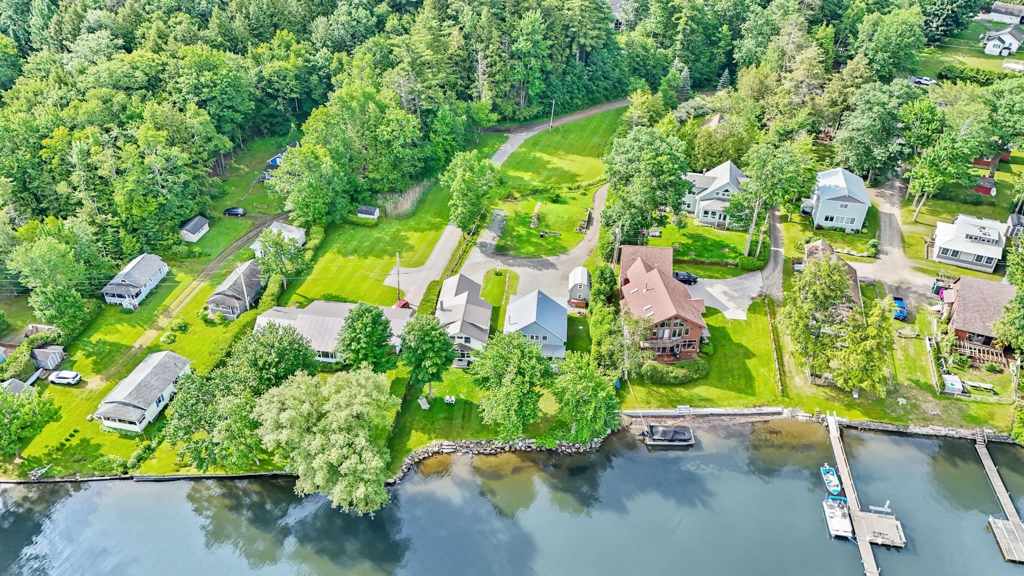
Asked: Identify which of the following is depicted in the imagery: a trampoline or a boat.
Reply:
boat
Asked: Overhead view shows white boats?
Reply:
Yes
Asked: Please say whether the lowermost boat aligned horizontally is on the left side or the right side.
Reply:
right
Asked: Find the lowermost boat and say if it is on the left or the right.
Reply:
right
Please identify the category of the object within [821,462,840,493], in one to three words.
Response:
boat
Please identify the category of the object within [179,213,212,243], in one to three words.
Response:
shed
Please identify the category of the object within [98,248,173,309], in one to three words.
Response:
house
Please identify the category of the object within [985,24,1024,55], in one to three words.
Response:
house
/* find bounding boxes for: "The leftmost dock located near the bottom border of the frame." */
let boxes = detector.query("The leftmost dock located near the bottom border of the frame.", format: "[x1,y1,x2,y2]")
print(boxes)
[827,411,908,576]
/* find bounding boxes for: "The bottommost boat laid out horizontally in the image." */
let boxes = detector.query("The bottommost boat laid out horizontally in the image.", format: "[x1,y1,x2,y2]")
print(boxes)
[640,427,698,449]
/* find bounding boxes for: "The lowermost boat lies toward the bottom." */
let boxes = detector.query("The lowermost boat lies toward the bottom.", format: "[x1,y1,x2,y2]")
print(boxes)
[823,492,855,538]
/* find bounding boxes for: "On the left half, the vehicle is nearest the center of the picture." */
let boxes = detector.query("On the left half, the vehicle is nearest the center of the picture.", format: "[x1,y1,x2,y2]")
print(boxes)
[396,298,410,314]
